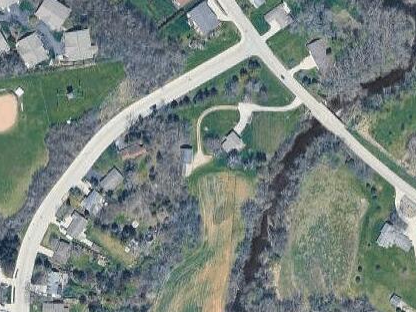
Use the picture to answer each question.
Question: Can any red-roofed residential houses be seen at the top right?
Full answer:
No, there's no red-roofed residential house to be seen at the top right.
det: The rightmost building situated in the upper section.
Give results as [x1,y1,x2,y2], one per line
[307,39,334,72]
